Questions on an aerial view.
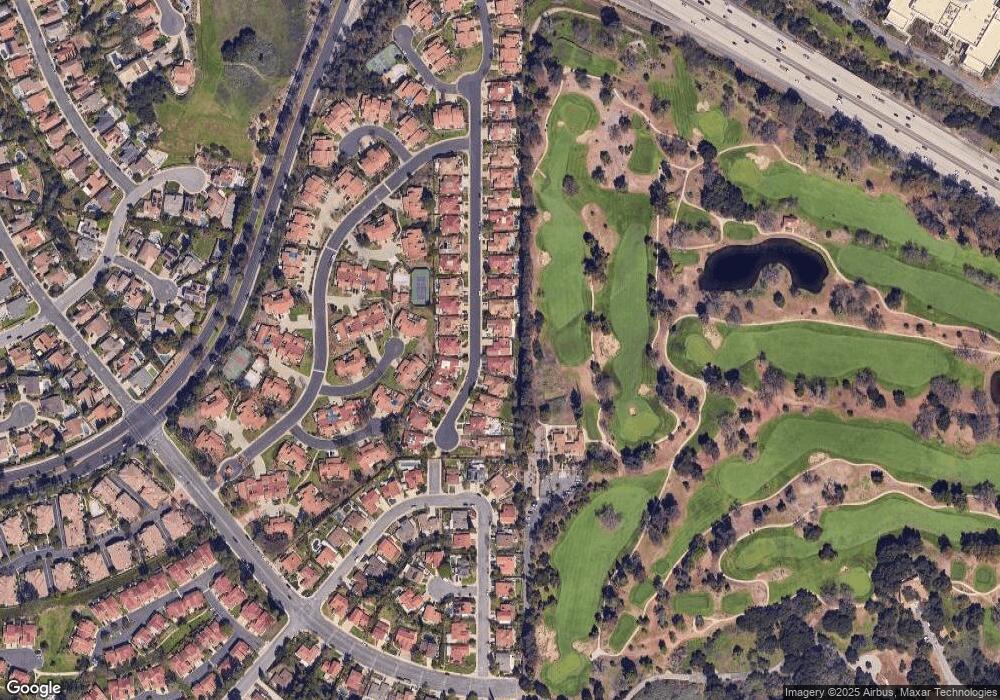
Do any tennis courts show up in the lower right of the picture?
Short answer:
No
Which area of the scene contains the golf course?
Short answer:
right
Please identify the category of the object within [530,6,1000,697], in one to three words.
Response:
golf course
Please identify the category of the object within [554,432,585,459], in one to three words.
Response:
building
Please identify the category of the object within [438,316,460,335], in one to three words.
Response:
house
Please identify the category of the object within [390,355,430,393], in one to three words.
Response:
house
